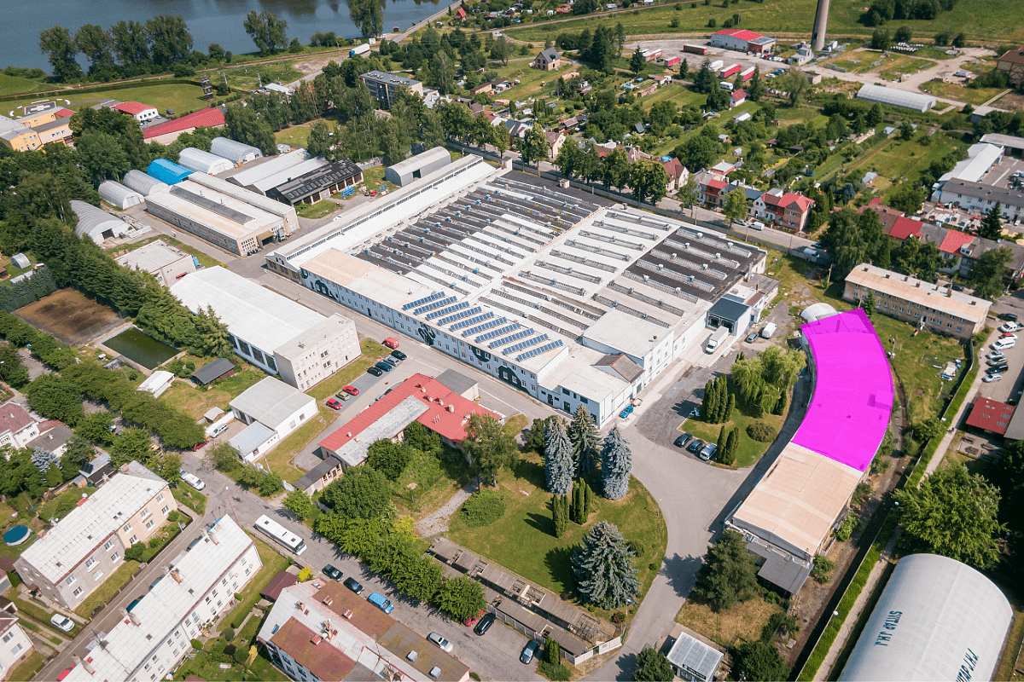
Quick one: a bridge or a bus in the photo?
bus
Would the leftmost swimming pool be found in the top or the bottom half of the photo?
bottom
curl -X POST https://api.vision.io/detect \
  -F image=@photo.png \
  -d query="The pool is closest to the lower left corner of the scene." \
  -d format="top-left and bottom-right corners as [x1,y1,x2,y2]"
[0,521,31,544]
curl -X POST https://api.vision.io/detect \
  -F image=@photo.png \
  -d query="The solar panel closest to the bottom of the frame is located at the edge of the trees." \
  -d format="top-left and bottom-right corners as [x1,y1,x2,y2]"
[74,459,102,481]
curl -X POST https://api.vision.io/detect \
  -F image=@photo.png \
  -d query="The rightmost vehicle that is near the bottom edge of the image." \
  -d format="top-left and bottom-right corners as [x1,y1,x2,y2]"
[518,638,541,667]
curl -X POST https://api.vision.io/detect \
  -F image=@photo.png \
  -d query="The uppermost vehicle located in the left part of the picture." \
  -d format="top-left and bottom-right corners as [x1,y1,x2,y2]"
[349,40,372,57]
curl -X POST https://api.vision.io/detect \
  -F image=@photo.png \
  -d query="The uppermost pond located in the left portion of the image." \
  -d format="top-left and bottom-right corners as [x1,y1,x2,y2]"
[97,324,177,372]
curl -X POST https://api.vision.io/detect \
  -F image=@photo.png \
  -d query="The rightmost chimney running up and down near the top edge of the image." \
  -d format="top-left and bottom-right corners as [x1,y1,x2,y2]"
[809,0,832,51]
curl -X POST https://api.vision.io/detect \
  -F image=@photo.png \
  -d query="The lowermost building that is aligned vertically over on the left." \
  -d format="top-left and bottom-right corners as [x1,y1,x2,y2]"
[0,602,33,676]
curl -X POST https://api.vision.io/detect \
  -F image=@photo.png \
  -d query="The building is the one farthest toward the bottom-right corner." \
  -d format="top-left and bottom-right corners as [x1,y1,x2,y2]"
[832,550,1015,682]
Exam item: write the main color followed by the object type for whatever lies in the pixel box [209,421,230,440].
white car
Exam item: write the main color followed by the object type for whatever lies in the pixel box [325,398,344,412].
red car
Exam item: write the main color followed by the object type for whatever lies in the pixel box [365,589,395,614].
blue vehicle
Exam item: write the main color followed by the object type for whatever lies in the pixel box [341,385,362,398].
red vehicle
